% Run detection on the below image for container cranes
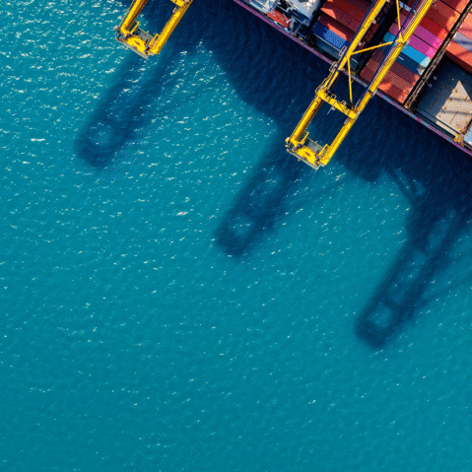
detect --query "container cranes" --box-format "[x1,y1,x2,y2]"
[281,0,429,168]
[111,0,191,58]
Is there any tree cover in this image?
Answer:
No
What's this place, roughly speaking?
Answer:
port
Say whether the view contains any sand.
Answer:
No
